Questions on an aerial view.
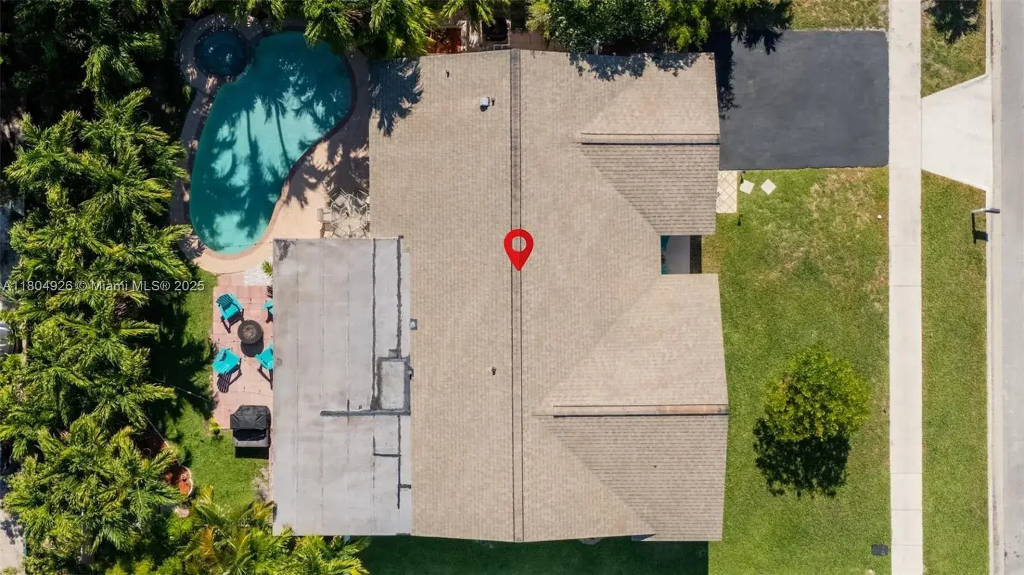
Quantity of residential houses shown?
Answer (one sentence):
The count comes to 1 residential house.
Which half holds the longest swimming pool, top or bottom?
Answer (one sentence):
The longest swimming pool sits in the top half of the picture.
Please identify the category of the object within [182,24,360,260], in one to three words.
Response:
swimming pool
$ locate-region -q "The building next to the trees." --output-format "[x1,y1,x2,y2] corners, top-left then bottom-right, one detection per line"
[272,49,728,544]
